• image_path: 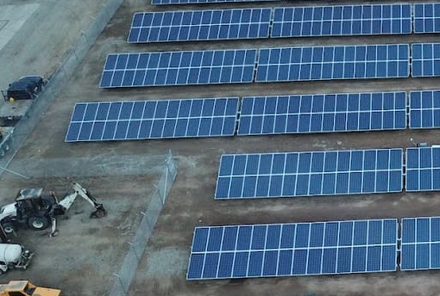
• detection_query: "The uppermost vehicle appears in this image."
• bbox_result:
[4,69,47,99]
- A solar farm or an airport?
solar farm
